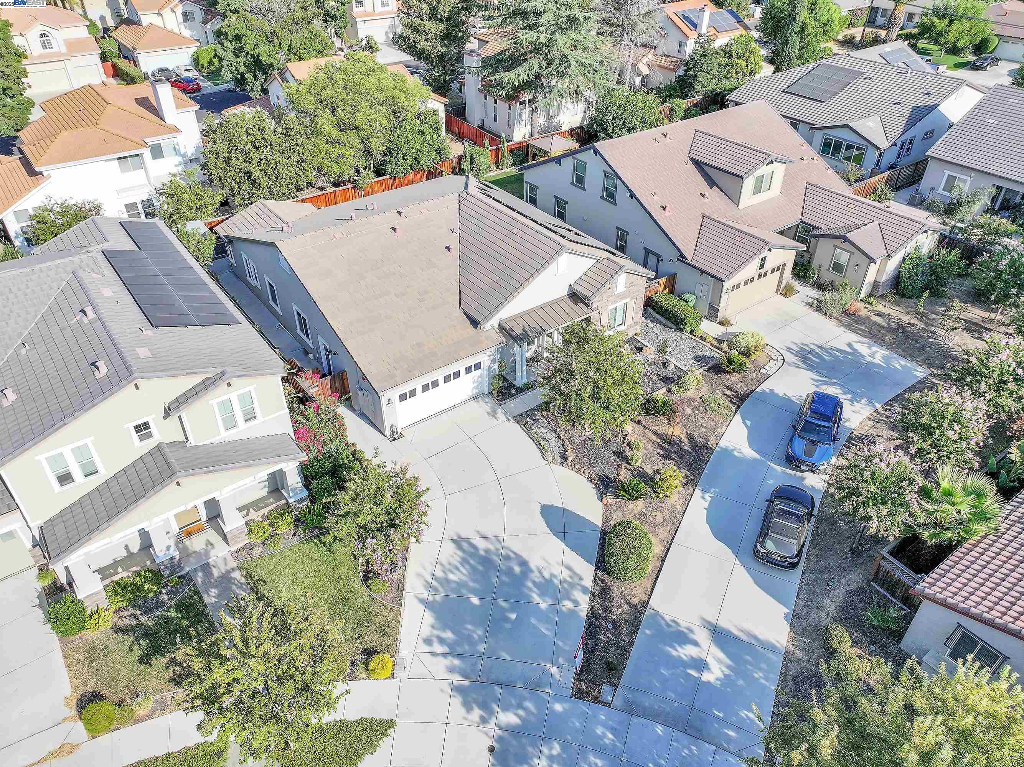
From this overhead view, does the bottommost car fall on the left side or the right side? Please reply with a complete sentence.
It is on the right.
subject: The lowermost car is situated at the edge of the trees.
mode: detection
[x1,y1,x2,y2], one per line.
[757,476,821,567]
